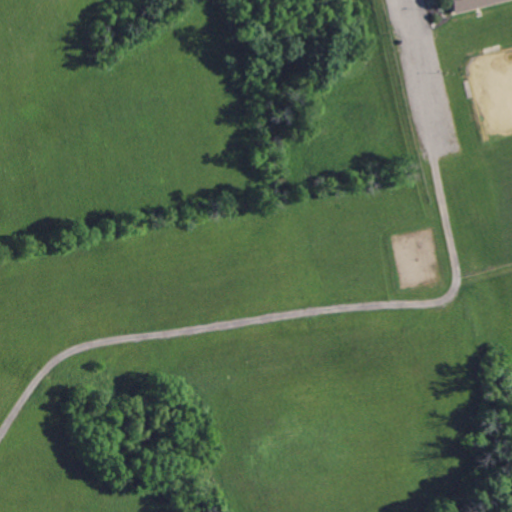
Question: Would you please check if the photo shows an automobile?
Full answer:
No, there's no automobile here.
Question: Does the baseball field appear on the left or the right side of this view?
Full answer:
It is on the right.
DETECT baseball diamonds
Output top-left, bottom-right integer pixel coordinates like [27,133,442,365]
[467,48,512,141]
